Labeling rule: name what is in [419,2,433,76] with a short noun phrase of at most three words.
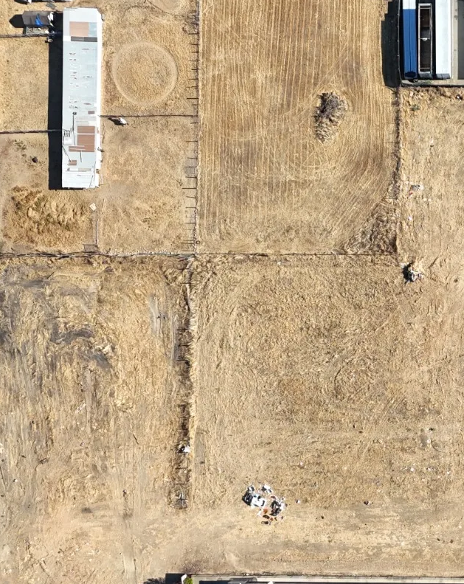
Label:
vehicle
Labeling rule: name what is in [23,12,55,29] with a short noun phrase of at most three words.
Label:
shed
